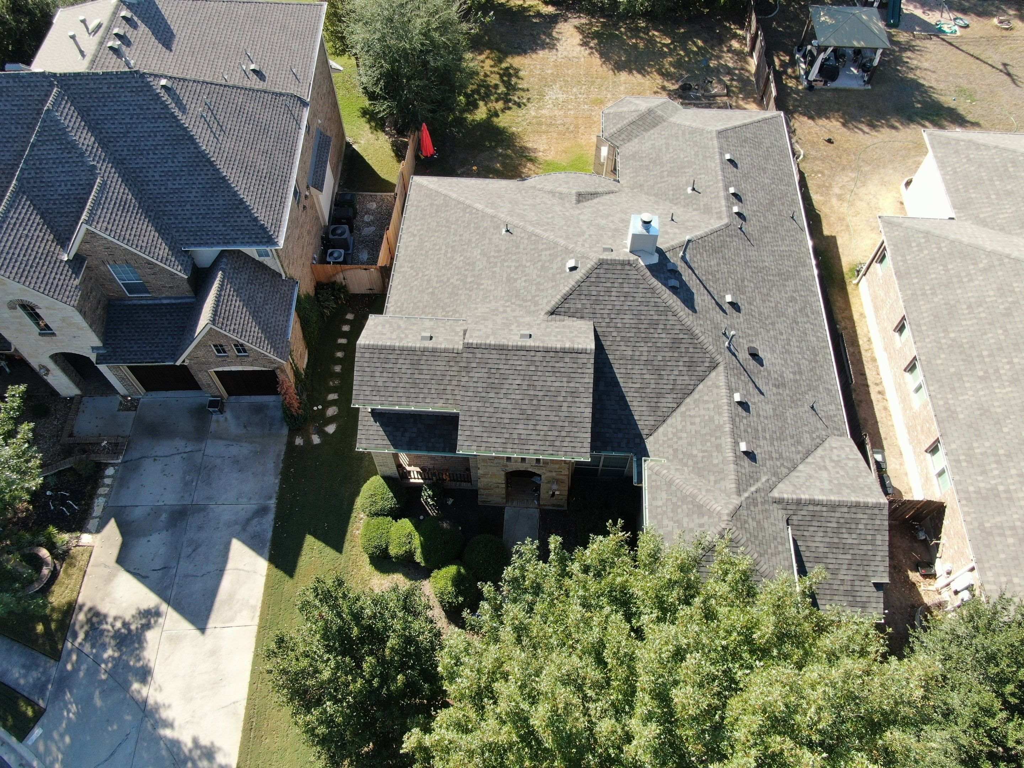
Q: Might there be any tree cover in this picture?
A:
Yes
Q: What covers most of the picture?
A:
buildings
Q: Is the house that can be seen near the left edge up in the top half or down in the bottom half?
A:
top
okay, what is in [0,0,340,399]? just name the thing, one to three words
house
